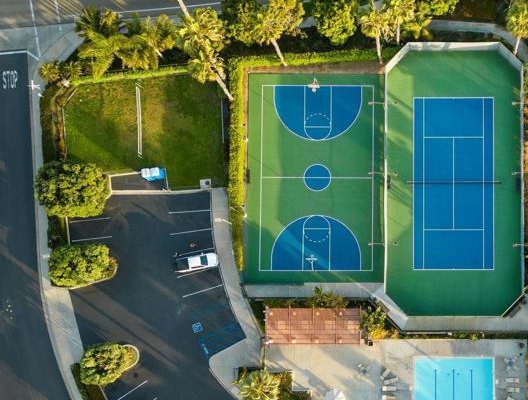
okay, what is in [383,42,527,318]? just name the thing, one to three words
tennis court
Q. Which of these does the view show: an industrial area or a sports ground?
sports ground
